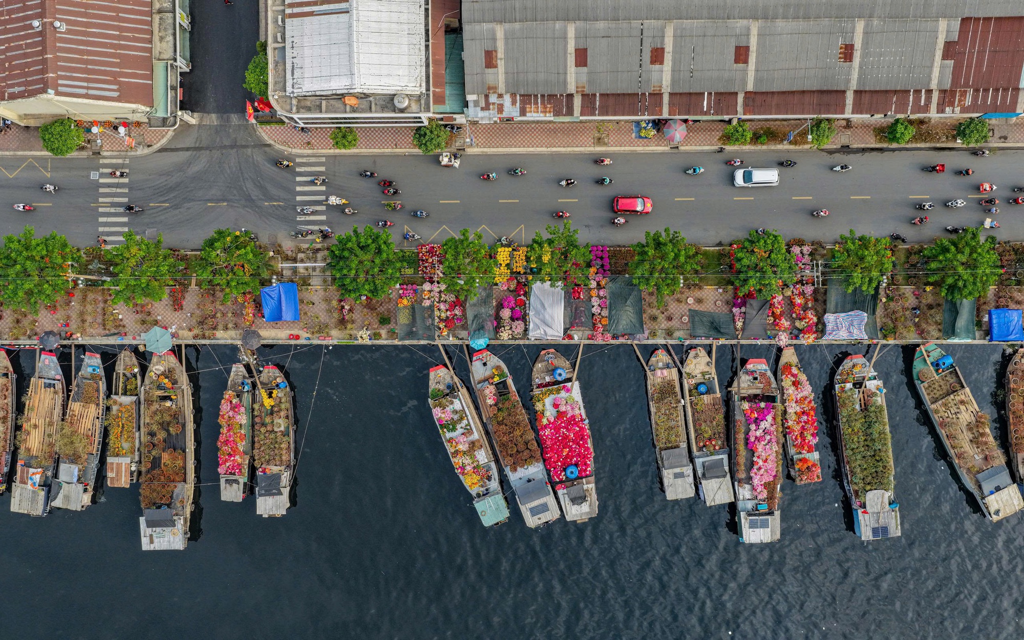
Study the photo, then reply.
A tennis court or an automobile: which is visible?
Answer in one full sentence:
The one in the frame is an automobile.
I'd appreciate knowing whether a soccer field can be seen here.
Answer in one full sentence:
No, I find no soccer field anywhere in the image.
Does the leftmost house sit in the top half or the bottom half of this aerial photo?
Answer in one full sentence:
Seen from above, the leftmost house lies in the top half of the view.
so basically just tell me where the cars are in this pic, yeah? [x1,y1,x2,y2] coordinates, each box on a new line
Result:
[732,166,779,187]
[612,194,653,215]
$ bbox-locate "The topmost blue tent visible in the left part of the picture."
[261,283,302,321]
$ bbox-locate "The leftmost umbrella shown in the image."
[42,330,62,350]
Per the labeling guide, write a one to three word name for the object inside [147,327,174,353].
umbrella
